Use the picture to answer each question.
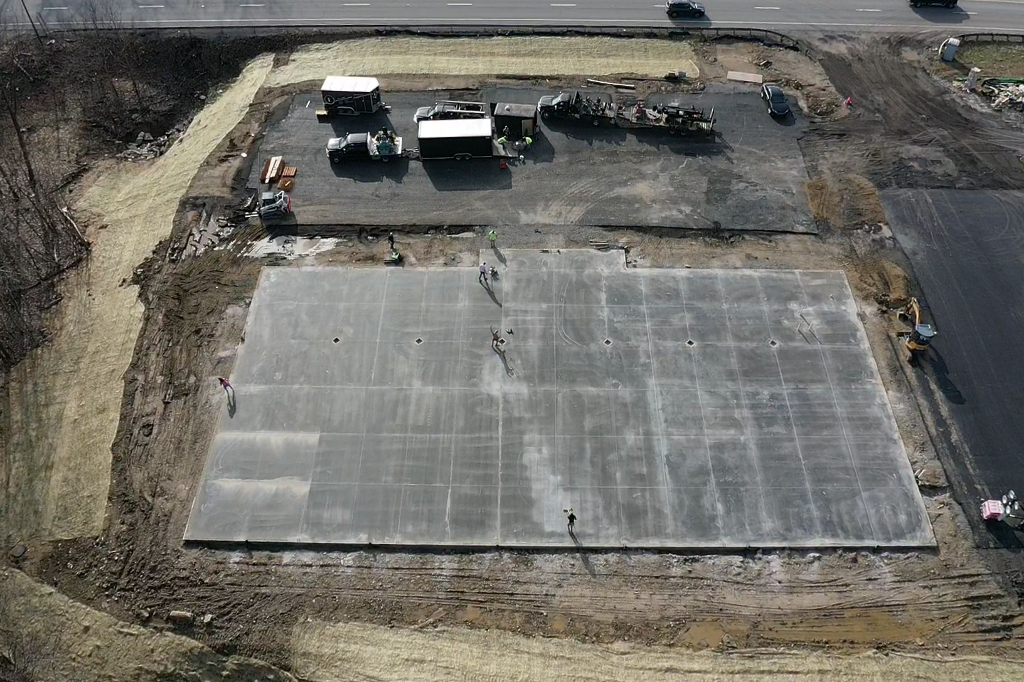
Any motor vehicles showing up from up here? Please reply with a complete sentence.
Yes, a motor vehicle can be made out from above.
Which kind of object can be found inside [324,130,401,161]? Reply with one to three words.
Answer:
truck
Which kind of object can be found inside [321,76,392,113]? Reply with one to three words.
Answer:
trailer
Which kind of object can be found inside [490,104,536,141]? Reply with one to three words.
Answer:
trailer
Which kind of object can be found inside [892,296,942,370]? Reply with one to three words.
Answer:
work vehicle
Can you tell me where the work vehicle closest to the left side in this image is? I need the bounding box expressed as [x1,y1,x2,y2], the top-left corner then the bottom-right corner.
[246,192,288,222]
